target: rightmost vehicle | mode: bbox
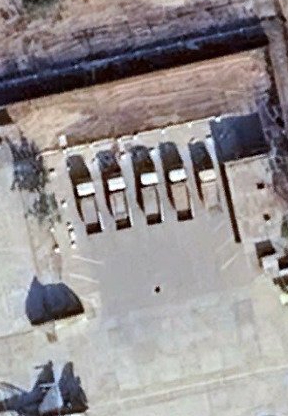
[197,163,224,208]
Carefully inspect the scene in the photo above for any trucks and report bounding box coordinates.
[168,164,193,219]
[197,163,224,208]
[76,177,104,232]
[106,173,133,226]
[139,168,164,222]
